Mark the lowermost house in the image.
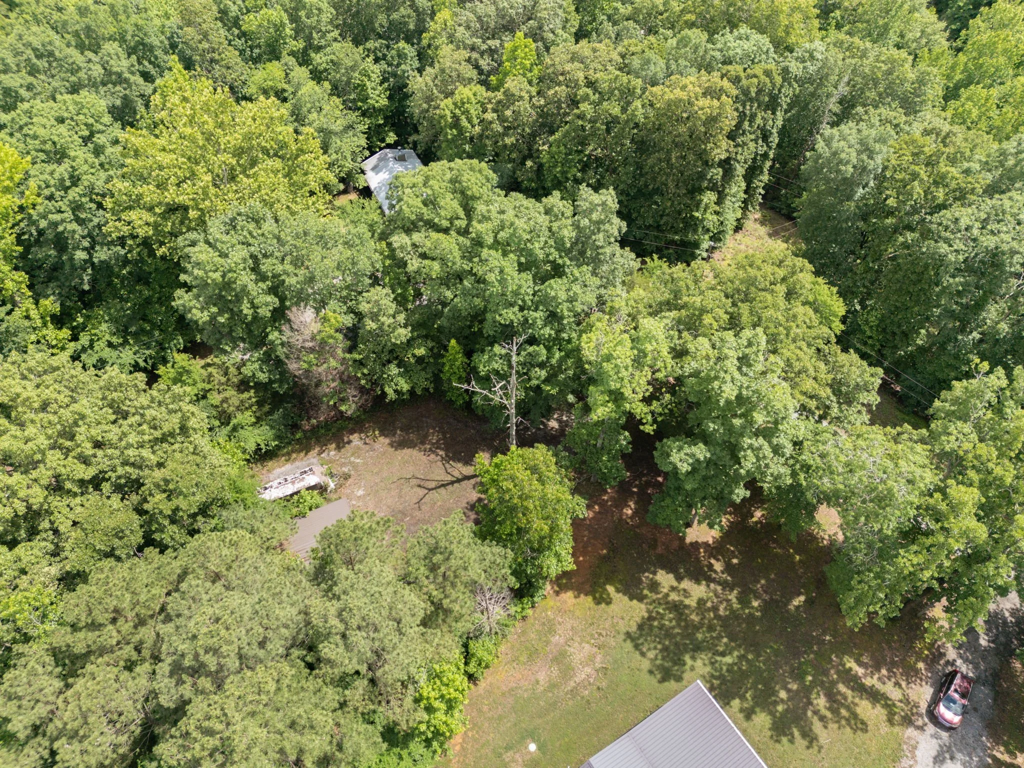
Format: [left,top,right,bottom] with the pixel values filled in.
[579,679,768,768]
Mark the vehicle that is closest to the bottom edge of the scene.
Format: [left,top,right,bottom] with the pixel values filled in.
[929,667,974,729]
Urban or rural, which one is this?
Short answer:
rural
